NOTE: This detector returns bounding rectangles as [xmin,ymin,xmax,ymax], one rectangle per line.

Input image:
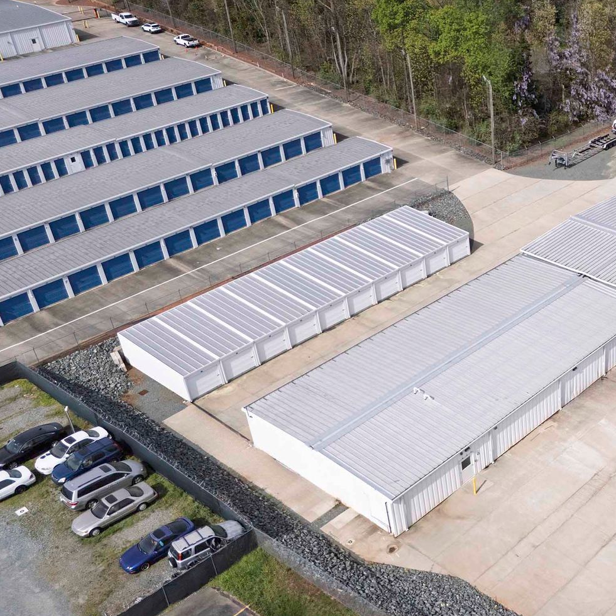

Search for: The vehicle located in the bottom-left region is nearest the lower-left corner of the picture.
[0,471,42,511]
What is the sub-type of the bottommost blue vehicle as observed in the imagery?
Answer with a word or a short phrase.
automobile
